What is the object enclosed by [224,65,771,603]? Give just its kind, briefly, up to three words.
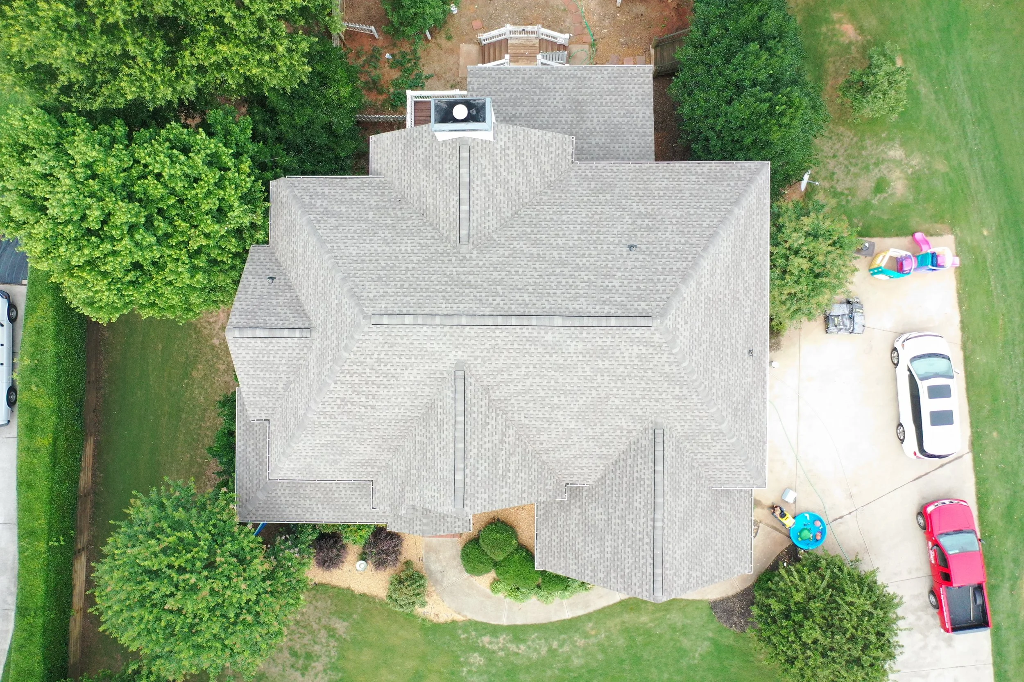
house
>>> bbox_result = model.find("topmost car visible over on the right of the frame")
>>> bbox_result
[891,330,963,460]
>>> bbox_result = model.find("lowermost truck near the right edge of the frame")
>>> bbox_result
[917,495,996,639]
